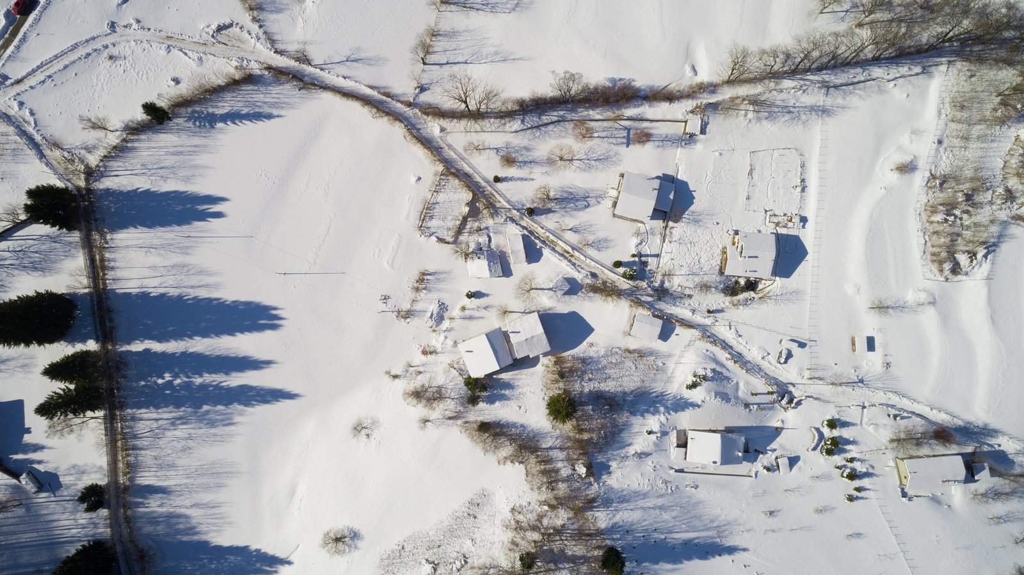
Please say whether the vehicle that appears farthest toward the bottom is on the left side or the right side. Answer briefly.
left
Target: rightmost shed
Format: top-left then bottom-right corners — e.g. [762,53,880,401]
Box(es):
[966,461,992,479]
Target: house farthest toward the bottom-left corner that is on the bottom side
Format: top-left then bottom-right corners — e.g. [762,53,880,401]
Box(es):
[458,327,513,378]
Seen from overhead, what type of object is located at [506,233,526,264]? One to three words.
building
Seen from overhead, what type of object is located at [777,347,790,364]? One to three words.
vehicle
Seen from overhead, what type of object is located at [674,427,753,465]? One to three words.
house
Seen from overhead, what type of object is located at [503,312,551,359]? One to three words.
house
